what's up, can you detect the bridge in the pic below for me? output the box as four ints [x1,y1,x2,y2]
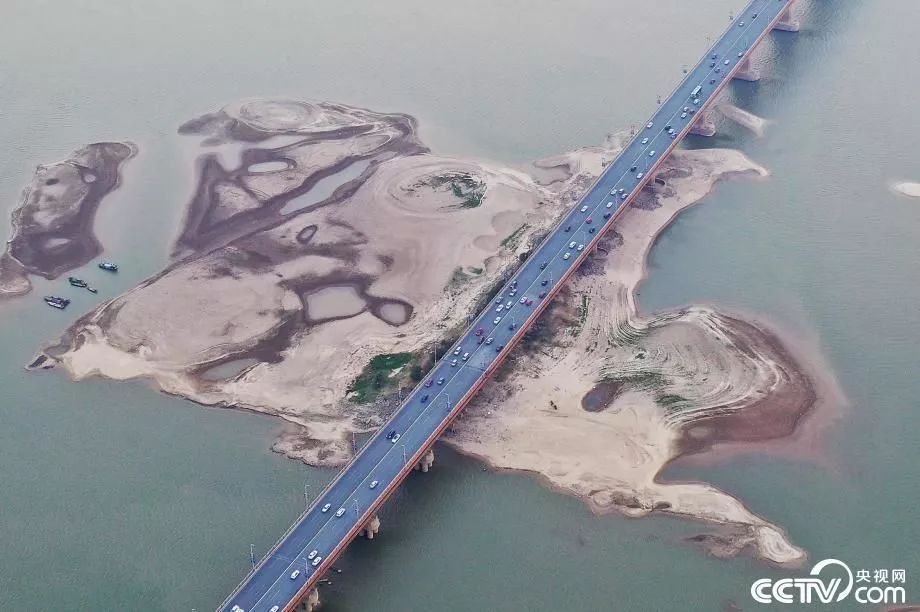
[215,0,799,612]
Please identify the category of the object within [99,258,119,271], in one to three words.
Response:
boat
